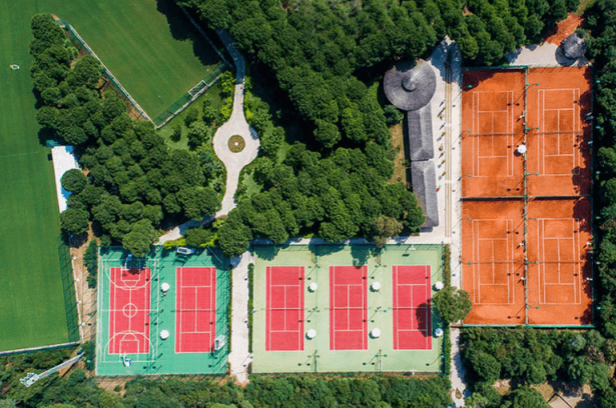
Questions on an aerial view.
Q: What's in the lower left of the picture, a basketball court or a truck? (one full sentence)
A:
The feature located in the lower left of the picture is a basketball court.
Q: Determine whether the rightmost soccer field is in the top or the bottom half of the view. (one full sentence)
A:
The rightmost soccer field sits in the top half of the picture.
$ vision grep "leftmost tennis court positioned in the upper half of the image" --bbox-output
[461,67,525,197]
